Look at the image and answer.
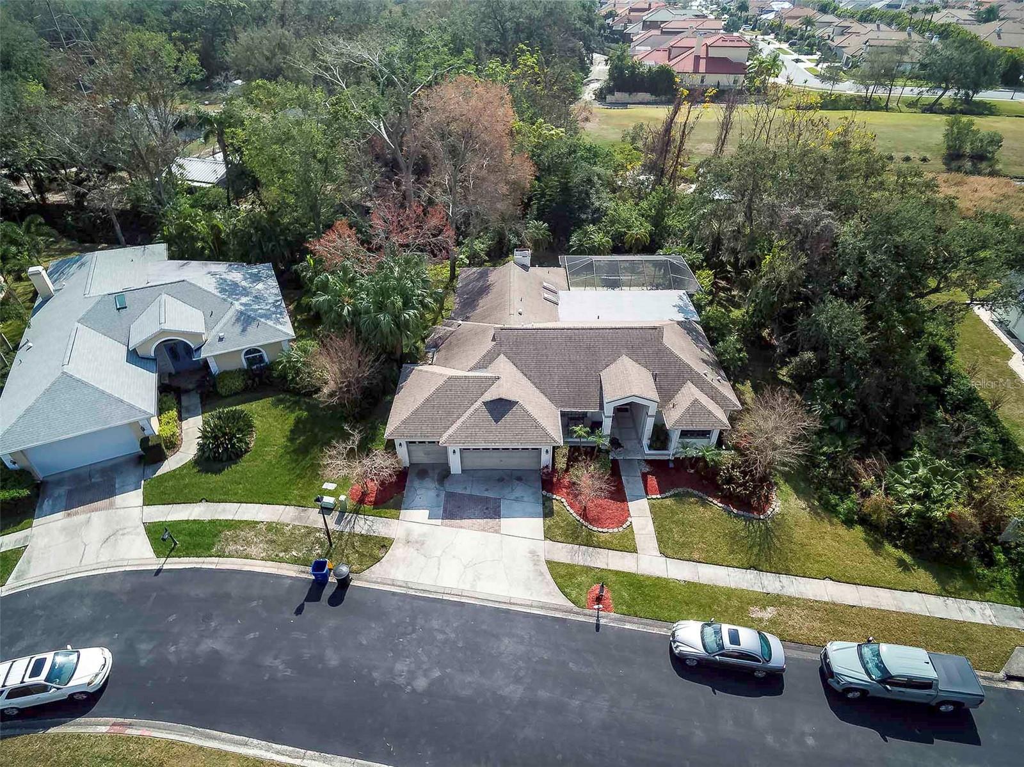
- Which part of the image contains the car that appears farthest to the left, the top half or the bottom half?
bottom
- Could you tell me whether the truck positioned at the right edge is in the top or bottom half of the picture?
bottom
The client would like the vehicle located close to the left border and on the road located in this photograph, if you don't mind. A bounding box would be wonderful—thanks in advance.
[0,647,107,718]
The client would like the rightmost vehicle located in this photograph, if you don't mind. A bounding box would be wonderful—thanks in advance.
[826,643,990,714]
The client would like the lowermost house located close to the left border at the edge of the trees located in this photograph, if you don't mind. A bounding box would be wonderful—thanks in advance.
[0,245,301,482]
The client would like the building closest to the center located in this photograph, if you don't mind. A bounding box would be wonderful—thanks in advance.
[383,248,742,473]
